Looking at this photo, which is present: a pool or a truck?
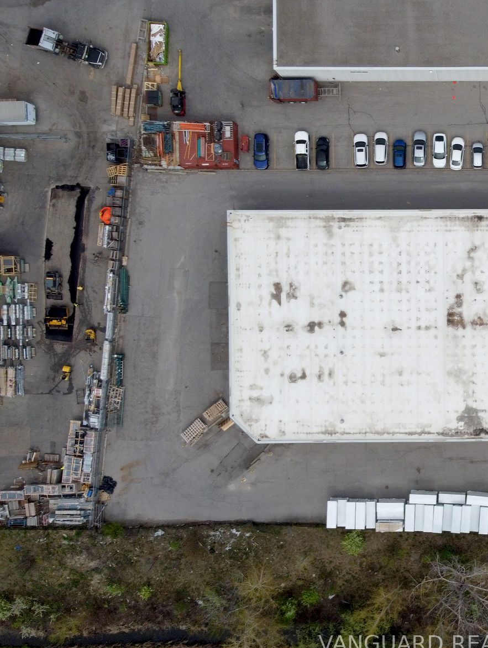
truck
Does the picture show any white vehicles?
Yes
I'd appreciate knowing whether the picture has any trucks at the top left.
Yes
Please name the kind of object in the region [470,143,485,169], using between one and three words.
car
